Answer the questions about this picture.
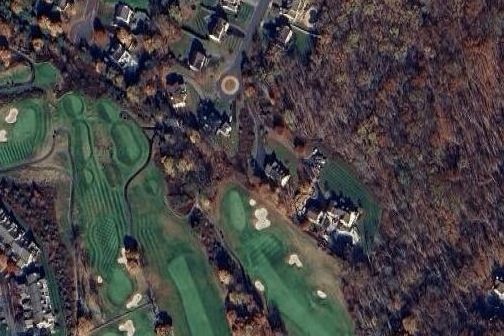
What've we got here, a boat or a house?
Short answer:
house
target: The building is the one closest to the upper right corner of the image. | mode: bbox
[286,1,313,24]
